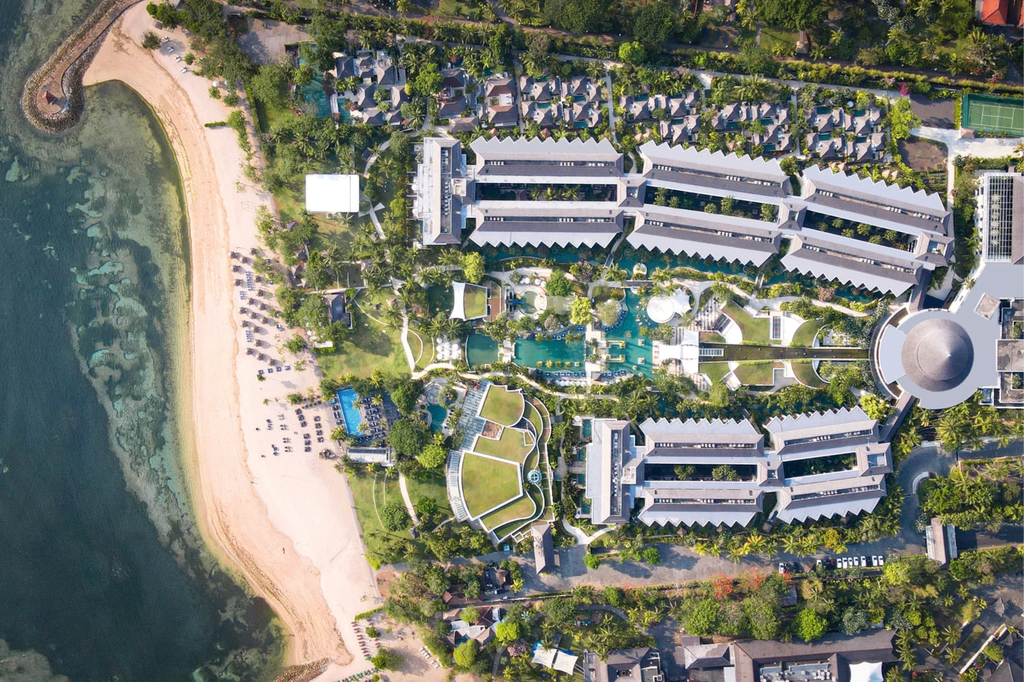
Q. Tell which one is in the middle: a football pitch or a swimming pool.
swimming pool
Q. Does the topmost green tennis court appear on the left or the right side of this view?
right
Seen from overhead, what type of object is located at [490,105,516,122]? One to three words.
house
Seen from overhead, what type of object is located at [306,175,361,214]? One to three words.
tent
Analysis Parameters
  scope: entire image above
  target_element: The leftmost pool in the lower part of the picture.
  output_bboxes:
[336,387,364,438]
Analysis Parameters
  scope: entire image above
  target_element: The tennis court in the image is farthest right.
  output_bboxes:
[962,92,1024,140]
